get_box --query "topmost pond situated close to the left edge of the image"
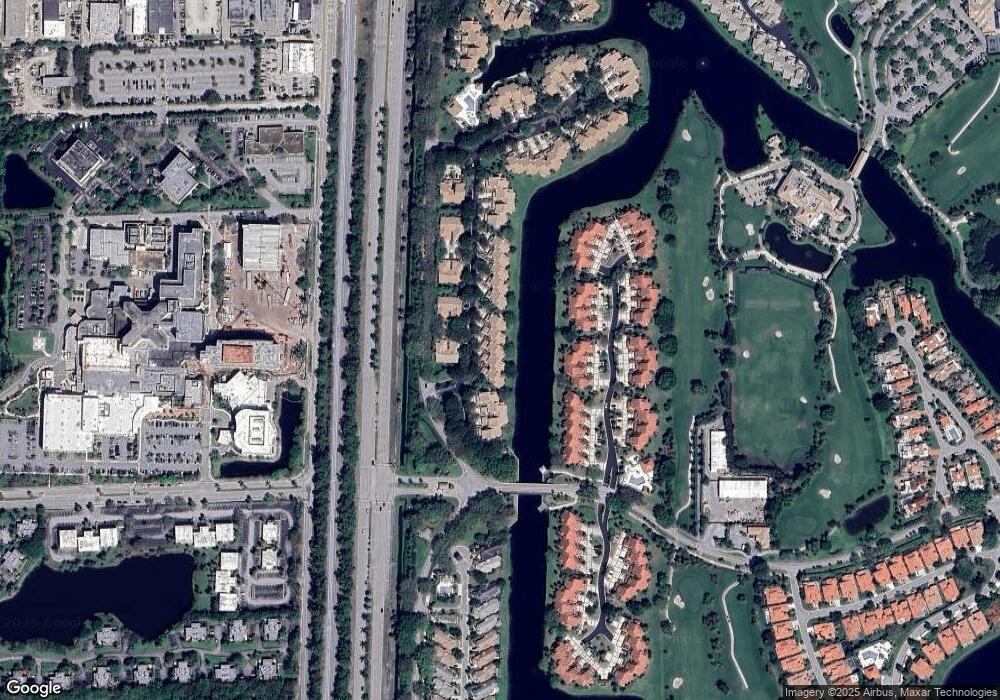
[4,155,54,209]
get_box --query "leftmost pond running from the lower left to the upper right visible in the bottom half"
[221,394,302,478]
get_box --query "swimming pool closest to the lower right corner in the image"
[858,641,892,672]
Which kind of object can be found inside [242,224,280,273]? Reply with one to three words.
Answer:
building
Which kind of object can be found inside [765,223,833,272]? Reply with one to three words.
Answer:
pond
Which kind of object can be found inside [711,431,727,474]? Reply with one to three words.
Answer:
shed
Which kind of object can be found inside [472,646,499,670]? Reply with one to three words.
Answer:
house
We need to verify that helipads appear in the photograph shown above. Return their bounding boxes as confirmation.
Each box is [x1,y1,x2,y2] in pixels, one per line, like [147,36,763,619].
[32,337,46,350]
